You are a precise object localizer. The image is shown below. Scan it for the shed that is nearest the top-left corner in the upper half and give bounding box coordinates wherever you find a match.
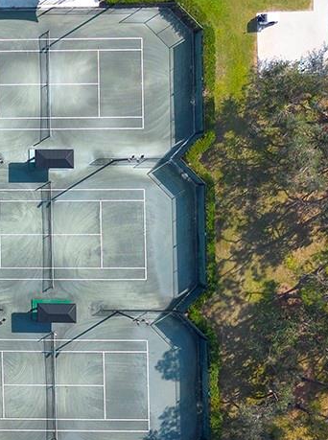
[30,150,74,168]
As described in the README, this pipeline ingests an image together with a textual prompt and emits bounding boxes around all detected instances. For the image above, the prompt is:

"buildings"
[30,150,74,168]
[32,301,75,323]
